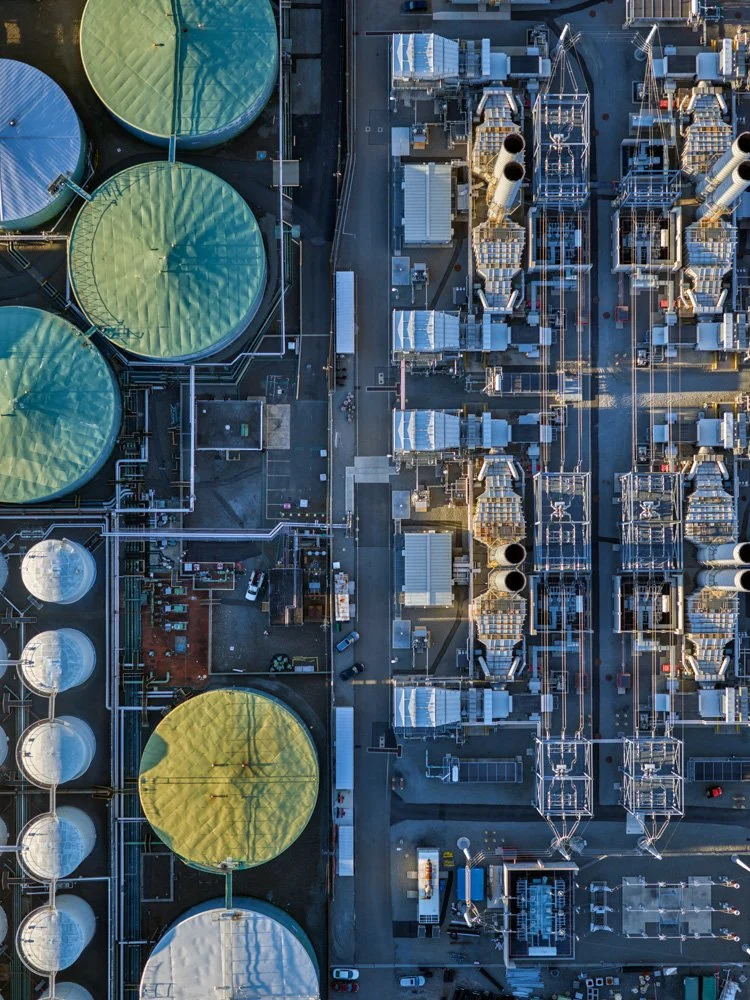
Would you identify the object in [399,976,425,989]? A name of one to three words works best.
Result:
vehicle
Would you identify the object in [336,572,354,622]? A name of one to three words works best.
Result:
vehicle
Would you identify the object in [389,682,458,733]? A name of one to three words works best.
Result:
house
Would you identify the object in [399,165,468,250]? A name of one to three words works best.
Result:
building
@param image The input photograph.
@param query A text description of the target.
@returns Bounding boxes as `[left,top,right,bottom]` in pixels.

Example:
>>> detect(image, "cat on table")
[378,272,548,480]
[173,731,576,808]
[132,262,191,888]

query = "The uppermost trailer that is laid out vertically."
[335,271,354,356]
